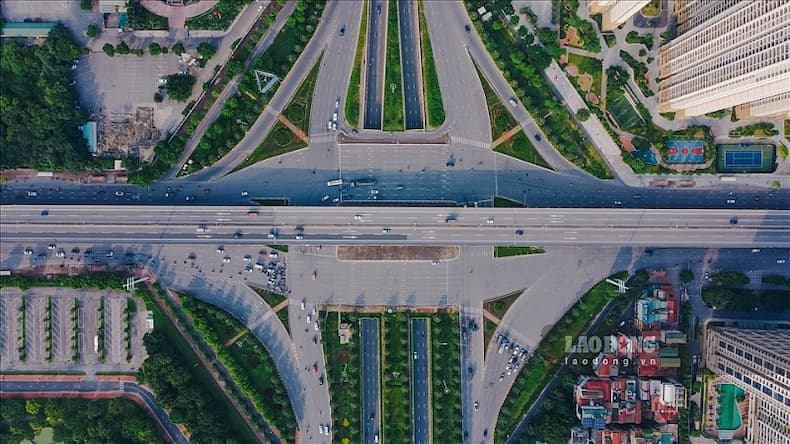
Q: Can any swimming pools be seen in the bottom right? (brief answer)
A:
Yes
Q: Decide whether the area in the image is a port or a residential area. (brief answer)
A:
residential area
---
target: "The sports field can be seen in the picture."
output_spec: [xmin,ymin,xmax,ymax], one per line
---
[607,91,647,132]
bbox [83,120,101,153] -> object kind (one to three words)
shed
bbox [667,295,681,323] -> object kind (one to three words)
house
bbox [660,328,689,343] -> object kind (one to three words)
house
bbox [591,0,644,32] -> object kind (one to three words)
building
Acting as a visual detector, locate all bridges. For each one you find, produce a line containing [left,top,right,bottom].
[0,205,790,249]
